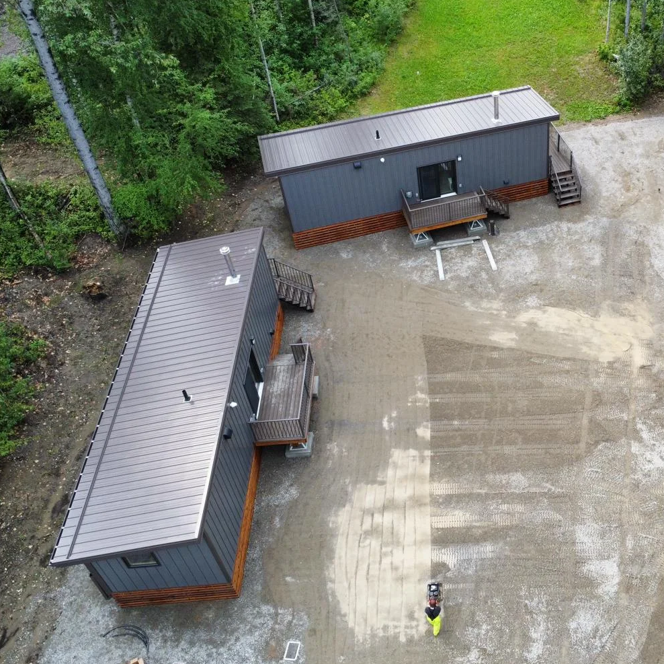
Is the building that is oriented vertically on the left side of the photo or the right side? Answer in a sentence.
You can find the building that is oriented vertically on the left side of the picture.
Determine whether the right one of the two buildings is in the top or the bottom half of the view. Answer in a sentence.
The right one of the two buildings is in the top half of the image.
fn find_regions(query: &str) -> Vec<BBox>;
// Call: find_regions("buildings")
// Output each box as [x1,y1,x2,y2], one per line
[257,86,561,248]
[46,228,284,609]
